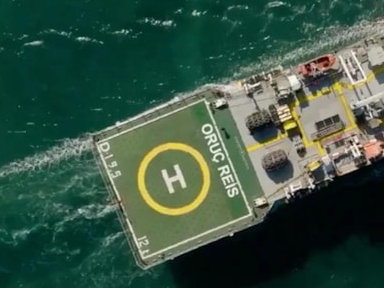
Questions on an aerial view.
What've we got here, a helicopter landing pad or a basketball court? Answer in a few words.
helicopter landing pad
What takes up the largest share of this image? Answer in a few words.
water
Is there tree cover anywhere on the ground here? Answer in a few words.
No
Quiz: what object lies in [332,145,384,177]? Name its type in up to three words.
boat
